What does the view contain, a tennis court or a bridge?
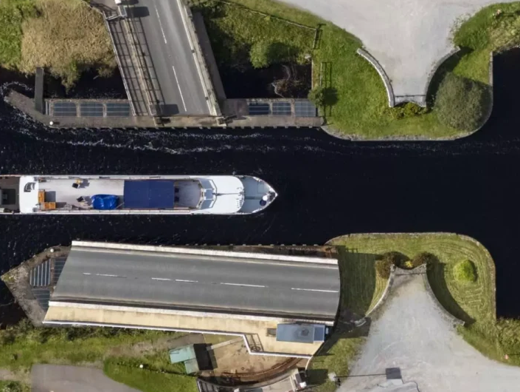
bridge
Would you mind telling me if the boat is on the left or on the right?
left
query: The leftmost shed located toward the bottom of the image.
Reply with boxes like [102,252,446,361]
[170,342,202,372]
